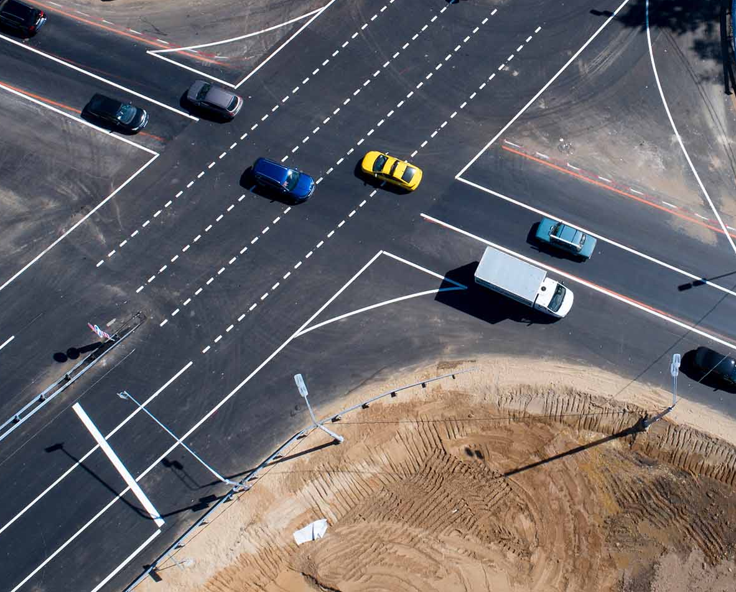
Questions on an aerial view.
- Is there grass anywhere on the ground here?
No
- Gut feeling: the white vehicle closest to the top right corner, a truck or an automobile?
truck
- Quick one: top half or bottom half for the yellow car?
top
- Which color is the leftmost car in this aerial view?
black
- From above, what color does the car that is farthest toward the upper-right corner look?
blue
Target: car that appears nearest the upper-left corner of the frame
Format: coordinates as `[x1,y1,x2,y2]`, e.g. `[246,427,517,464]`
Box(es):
[0,0,49,35]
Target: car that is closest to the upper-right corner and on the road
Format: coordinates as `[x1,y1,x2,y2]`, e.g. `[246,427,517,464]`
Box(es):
[533,219,597,261]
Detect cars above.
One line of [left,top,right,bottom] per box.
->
[533,219,597,261]
[85,90,149,129]
[688,343,736,386]
[0,0,49,35]
[253,154,317,197]
[360,150,423,189]
[188,84,247,120]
